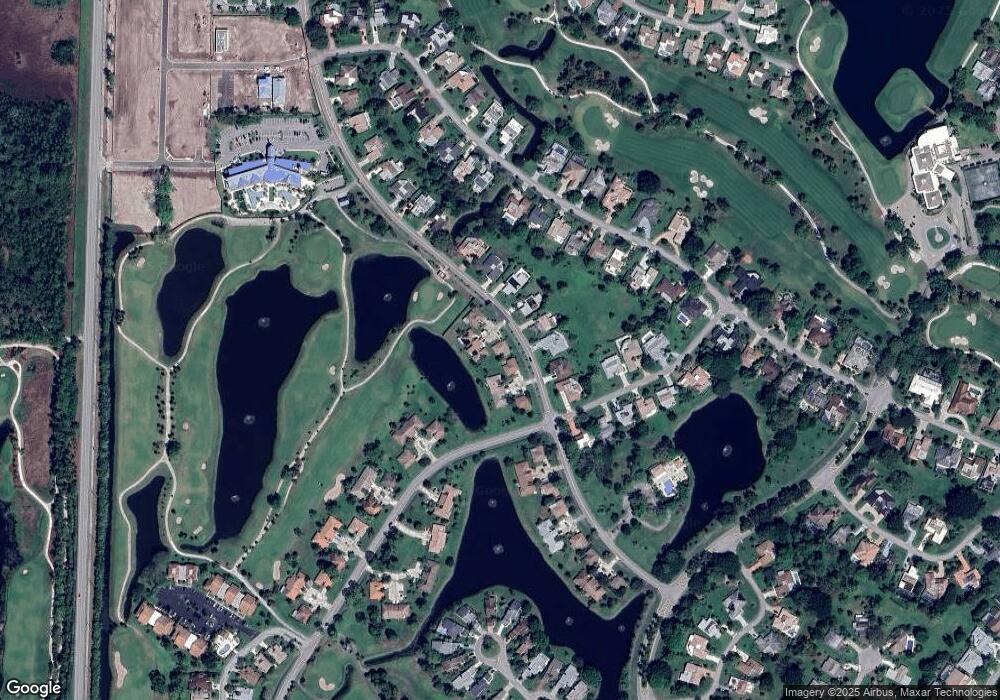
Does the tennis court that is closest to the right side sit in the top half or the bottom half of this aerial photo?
top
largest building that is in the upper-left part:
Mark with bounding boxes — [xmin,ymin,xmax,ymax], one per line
[224,142,312,190]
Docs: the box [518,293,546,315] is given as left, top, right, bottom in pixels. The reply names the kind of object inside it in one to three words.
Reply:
house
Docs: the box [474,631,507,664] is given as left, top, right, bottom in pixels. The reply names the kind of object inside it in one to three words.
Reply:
roundabout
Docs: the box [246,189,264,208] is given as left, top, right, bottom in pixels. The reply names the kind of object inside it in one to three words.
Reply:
swimming pool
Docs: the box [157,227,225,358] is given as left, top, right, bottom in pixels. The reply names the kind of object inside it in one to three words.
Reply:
pond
